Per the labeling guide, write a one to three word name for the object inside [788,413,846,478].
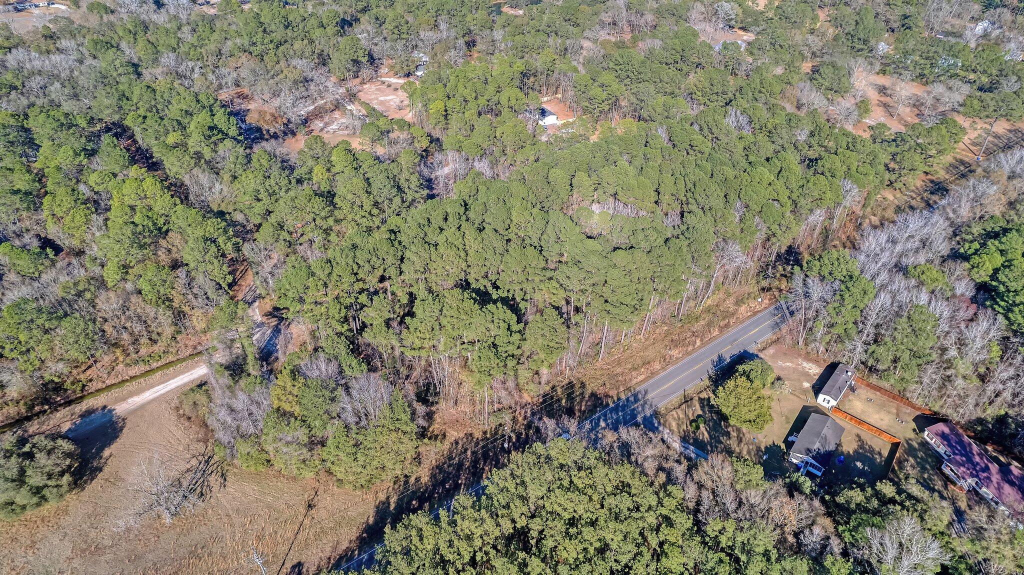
house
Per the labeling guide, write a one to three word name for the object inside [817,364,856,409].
house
